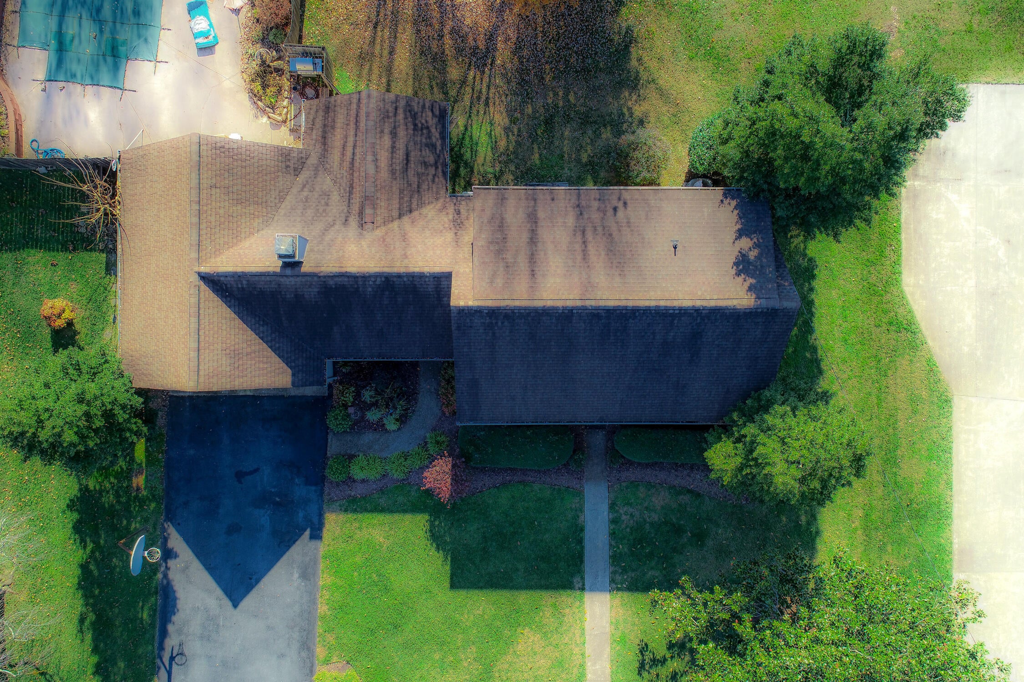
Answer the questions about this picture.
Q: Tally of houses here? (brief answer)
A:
1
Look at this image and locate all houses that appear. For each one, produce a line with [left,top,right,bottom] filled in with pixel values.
[116,88,801,428]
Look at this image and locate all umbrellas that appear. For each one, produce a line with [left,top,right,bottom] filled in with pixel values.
[226,0,246,34]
